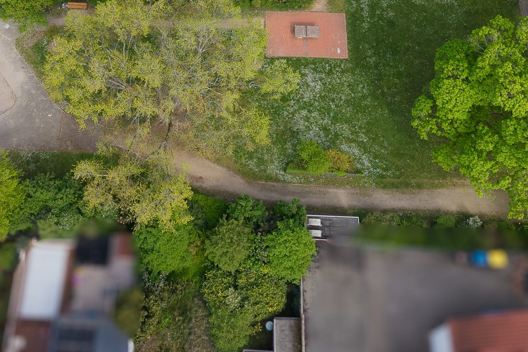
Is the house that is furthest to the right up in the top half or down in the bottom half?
bottom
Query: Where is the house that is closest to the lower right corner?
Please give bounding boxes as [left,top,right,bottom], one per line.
[428,310,528,352]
